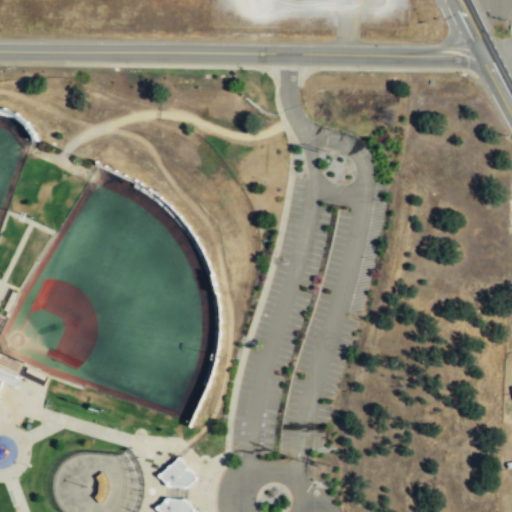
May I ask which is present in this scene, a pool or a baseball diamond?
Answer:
baseball diamond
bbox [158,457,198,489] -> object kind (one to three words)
building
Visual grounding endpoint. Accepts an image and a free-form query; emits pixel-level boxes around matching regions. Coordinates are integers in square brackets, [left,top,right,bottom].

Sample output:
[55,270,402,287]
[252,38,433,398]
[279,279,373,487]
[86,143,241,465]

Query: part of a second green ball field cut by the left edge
[0,112,38,226]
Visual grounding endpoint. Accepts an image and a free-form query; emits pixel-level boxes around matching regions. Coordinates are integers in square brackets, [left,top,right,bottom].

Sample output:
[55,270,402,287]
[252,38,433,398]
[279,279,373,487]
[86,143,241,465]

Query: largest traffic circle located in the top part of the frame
[322,148,358,186]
